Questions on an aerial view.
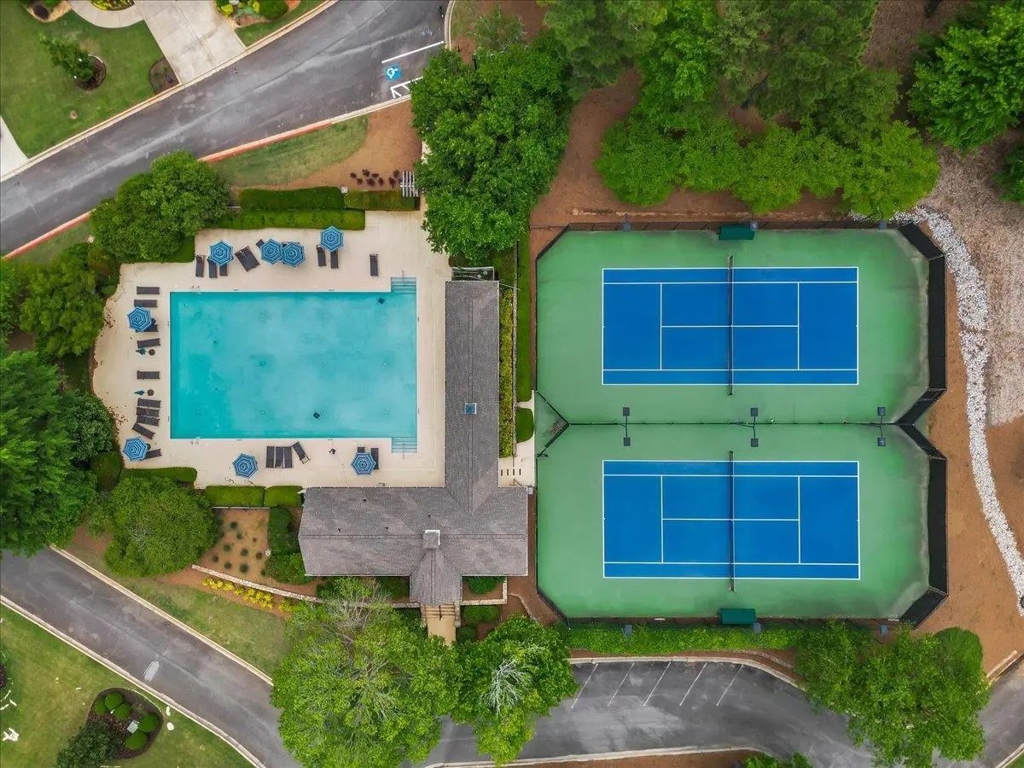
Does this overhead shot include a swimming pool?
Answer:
Yes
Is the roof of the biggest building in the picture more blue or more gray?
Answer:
gray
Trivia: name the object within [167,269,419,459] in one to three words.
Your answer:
swimming pool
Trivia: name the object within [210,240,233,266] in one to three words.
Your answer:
umbrella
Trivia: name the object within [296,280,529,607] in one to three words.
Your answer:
building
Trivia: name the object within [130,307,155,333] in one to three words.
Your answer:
umbrella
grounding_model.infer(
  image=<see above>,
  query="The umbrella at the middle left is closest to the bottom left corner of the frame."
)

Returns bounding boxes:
[124,436,151,461]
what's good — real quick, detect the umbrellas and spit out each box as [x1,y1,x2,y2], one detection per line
[321,227,344,252]
[234,453,258,478]
[138,389,156,397]
[124,436,151,461]
[130,307,155,333]
[259,239,282,264]
[351,452,377,475]
[282,241,306,266]
[139,347,157,356]
[210,240,233,266]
